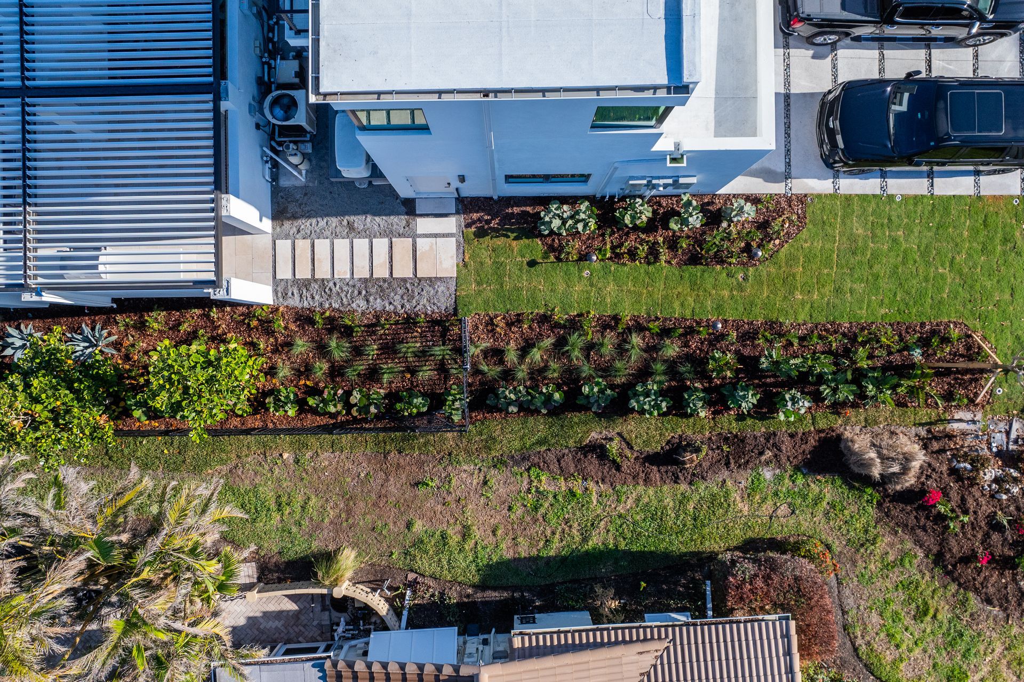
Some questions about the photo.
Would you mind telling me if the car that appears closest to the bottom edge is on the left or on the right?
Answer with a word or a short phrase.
right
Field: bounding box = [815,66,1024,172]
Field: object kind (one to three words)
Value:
car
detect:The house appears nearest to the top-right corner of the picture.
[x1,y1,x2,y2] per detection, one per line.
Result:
[307,0,774,201]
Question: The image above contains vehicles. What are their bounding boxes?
[775,0,1024,41]
[815,66,1024,172]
